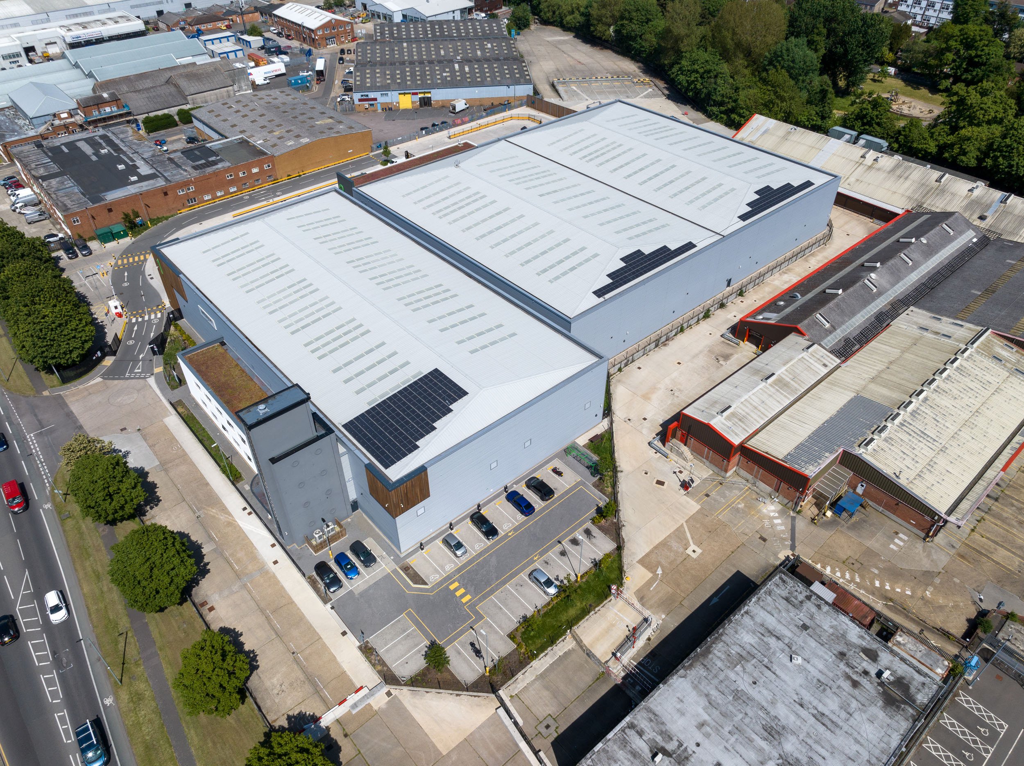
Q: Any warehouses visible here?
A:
Yes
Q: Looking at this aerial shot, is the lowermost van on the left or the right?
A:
left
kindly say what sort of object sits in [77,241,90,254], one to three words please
vehicle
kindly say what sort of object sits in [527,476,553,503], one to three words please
car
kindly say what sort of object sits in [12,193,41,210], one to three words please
vehicle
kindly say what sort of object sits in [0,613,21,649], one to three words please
car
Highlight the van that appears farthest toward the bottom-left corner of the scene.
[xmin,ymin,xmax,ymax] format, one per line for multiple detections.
[73,717,108,766]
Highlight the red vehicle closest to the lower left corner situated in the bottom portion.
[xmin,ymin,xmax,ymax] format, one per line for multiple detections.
[1,478,28,514]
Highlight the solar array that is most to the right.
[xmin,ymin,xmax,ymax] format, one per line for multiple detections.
[736,178,815,221]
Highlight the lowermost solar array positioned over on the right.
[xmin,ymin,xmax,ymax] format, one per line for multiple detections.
[591,239,697,298]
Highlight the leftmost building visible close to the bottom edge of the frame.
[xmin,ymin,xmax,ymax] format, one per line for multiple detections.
[577,567,945,766]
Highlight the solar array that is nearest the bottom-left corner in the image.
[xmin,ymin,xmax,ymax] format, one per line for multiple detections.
[342,367,469,469]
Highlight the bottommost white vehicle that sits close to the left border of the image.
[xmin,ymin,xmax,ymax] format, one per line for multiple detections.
[44,589,70,625]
